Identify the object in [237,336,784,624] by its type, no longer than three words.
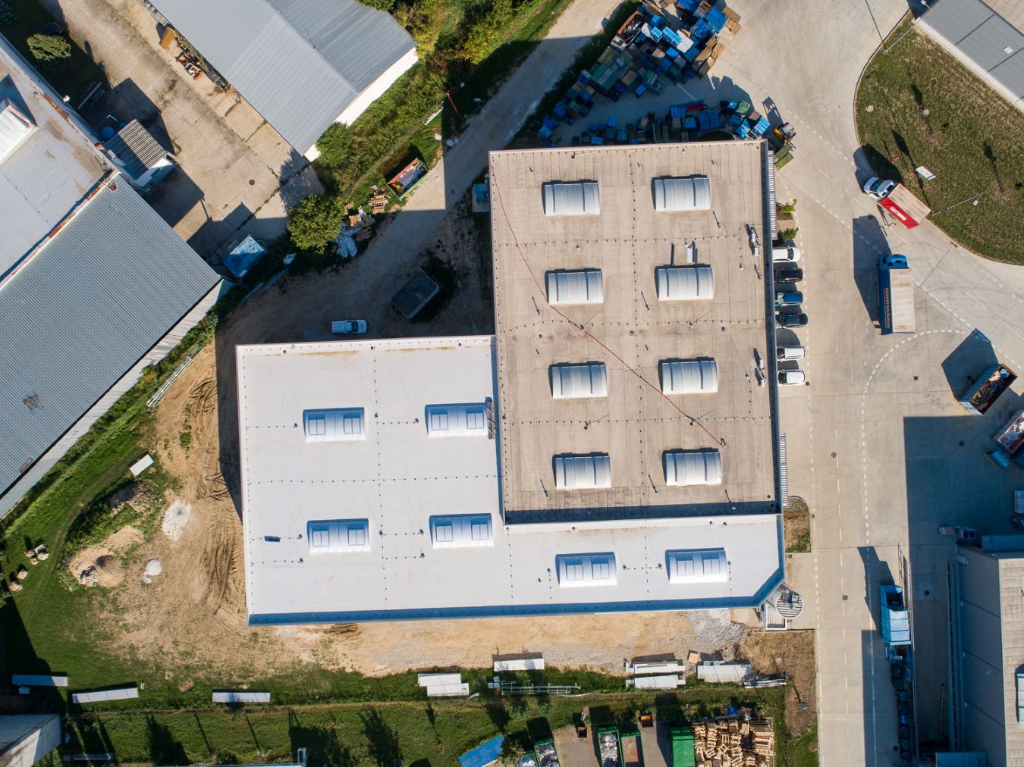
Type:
building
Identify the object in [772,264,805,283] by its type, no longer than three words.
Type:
car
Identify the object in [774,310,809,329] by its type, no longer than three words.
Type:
car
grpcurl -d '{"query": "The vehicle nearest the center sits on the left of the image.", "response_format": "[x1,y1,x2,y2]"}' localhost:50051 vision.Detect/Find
[328,317,367,335]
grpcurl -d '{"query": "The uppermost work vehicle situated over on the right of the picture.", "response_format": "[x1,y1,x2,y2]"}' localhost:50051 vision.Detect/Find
[773,116,797,146]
